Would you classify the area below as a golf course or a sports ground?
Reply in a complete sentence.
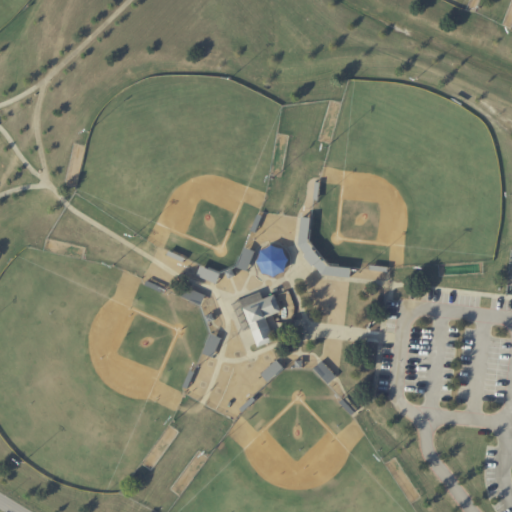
This looks like a sports ground.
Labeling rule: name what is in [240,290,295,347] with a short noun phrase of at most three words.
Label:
building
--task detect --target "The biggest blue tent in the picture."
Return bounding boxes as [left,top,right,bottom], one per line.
[256,244,290,278]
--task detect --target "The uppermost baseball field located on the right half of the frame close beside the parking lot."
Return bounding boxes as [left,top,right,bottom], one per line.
[311,80,502,272]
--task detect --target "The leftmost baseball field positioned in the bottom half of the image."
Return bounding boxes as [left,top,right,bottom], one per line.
[0,248,209,493]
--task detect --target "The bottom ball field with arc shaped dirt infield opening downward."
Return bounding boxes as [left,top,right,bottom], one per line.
[166,368,415,512]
